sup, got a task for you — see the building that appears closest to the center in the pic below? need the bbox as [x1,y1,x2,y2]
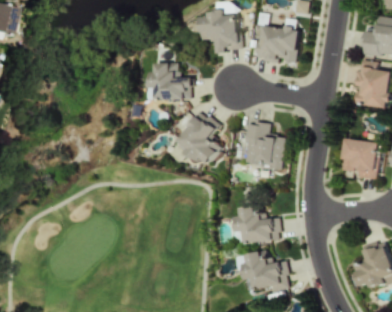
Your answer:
[168,108,225,167]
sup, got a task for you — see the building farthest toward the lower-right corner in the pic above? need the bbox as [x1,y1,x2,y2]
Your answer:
[350,240,392,292]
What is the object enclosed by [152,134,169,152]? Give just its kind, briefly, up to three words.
swimming pool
